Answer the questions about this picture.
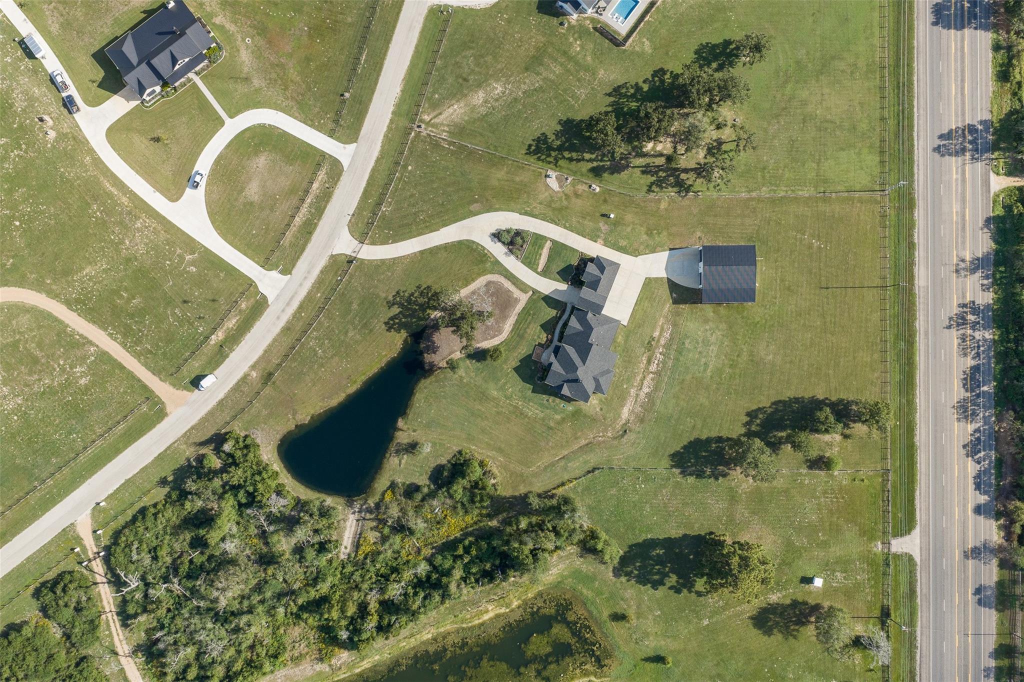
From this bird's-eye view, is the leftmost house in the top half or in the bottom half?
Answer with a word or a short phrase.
top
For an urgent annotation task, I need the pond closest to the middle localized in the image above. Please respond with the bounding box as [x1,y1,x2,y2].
[277,325,434,497]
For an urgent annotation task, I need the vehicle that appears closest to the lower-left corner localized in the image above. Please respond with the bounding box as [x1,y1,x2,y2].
[197,372,218,391]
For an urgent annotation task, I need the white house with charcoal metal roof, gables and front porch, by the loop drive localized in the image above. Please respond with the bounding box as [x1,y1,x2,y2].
[104,0,215,99]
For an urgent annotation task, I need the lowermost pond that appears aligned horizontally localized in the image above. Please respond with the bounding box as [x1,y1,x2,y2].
[358,585,619,682]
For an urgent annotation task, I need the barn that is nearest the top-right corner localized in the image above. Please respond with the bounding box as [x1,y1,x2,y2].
[699,245,763,303]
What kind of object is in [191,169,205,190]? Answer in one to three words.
vehicle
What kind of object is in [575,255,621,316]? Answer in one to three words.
building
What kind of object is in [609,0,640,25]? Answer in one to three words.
swimming pool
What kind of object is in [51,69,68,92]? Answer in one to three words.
vehicle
